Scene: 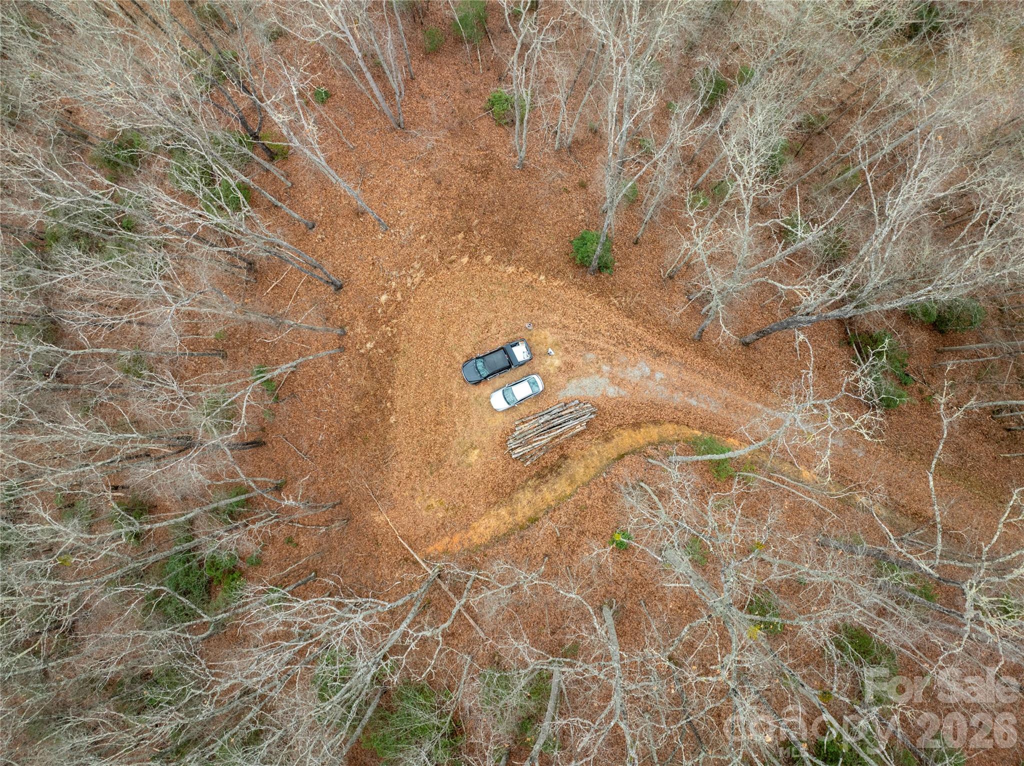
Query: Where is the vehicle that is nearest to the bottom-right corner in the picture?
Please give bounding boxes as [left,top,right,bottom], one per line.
[489,375,546,413]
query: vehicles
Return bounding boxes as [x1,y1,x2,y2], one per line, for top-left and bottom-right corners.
[461,338,535,387]
[489,375,546,413]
